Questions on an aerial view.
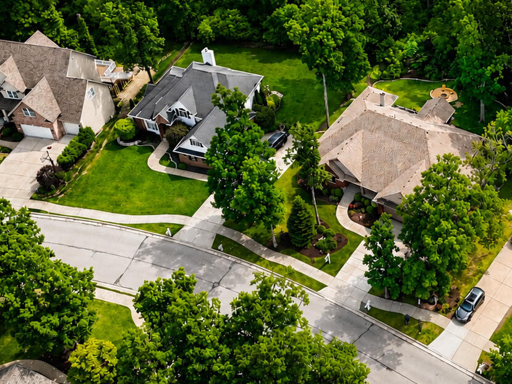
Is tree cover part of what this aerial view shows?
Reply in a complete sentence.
Yes, some tree cover is visible.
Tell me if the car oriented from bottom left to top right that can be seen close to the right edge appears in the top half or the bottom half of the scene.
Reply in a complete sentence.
The car oriented from bottom left to top right that can be seen close to the right edge sits in the bottom half of the picture.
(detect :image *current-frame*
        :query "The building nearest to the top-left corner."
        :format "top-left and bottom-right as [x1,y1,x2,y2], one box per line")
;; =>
[0,25,120,136]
